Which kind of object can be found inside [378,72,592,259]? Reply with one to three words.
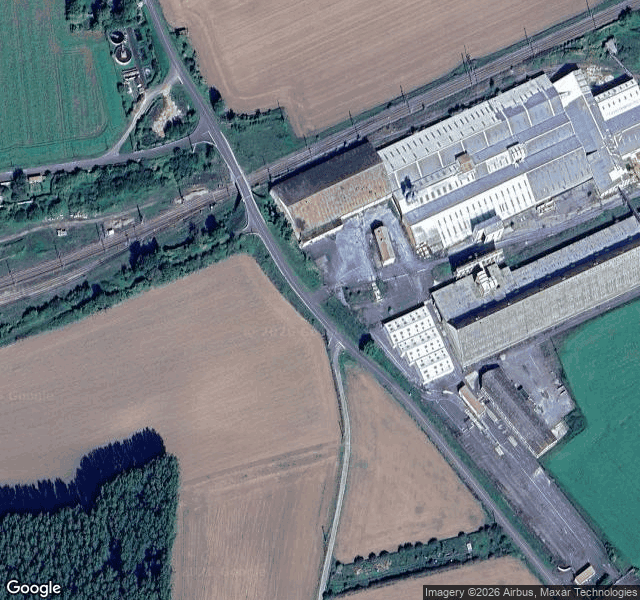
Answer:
building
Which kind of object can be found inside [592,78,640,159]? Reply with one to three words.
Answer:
shed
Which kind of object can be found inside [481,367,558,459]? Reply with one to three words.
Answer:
building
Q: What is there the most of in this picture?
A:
farmland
